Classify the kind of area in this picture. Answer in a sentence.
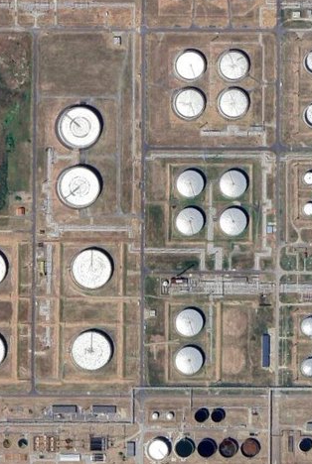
The area seen from above is an industrial area.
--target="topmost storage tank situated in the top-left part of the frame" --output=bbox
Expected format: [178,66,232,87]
[56,102,104,151]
